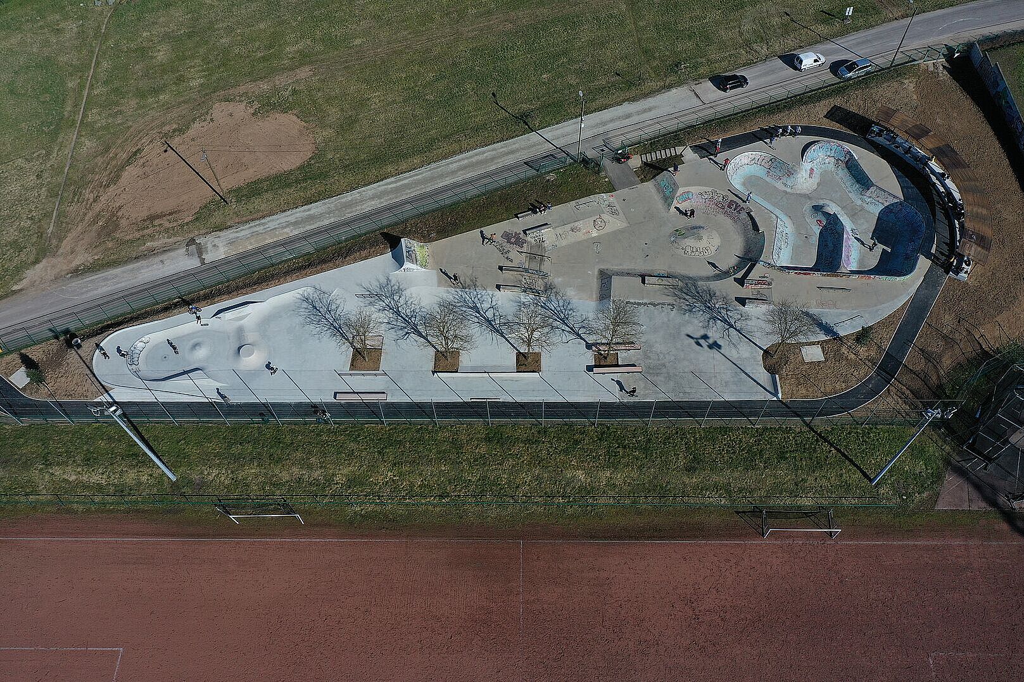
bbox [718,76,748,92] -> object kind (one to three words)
car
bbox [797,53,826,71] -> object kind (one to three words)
vehicle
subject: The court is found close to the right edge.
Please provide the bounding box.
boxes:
[937,382,1024,510]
